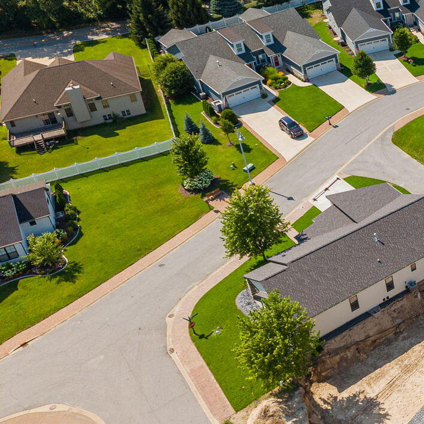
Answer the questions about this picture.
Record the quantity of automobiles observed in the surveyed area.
1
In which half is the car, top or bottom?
top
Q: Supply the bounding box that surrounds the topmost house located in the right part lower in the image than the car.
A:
[238,184,424,338]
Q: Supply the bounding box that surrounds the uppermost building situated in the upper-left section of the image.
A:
[0,44,146,152]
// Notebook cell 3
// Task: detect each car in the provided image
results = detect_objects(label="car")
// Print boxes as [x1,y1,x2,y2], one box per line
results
[278,115,302,137]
